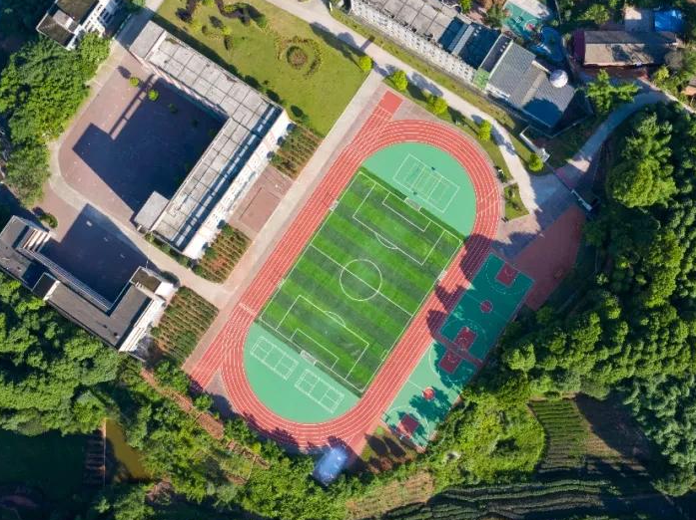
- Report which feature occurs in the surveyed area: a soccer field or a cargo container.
soccer field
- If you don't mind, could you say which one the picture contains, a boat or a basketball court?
basketball court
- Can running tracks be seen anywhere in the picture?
Yes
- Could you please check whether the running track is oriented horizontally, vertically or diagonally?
diagonally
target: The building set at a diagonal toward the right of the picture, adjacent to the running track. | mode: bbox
[351,0,575,133]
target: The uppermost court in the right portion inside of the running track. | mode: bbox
[391,152,461,214]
